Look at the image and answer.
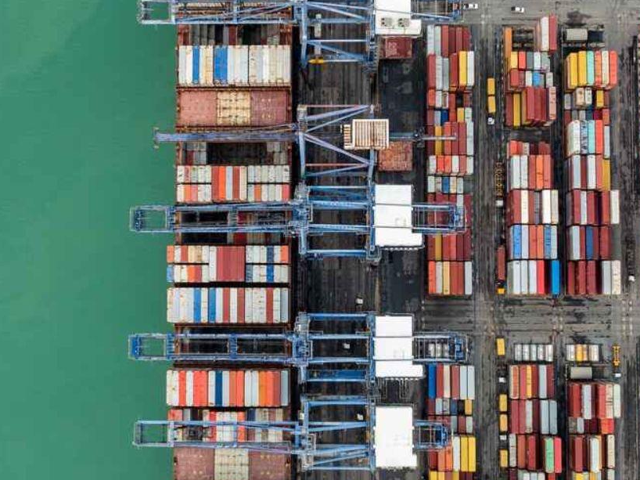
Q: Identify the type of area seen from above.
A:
port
